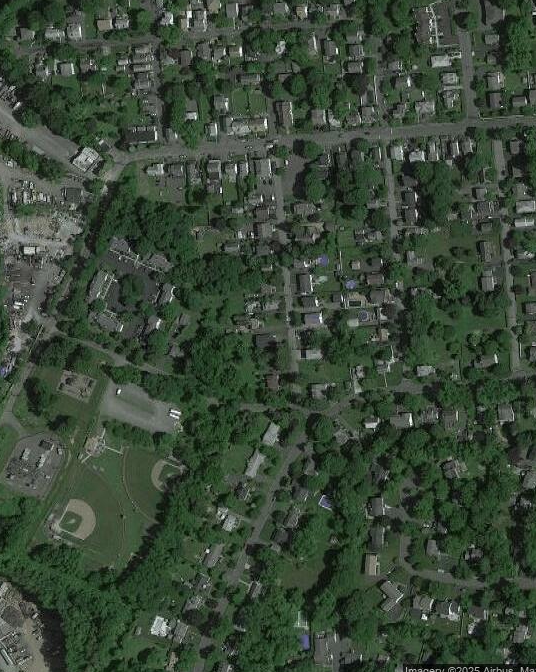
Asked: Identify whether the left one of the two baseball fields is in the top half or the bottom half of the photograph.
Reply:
bottom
